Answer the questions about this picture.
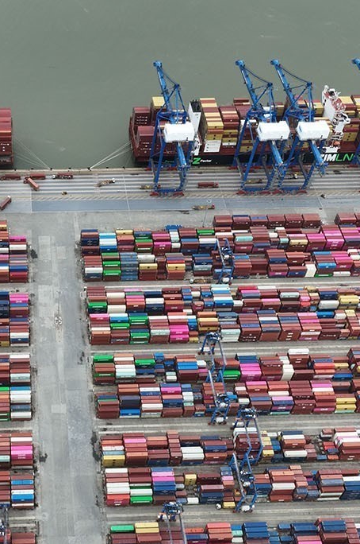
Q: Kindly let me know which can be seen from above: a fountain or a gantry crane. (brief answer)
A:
gantry crane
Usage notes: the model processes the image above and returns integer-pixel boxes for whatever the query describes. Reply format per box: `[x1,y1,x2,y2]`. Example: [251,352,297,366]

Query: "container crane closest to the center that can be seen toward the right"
[214,238,238,284]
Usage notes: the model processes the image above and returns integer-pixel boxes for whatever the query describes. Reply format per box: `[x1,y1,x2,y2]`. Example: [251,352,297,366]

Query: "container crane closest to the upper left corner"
[147,63,197,195]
